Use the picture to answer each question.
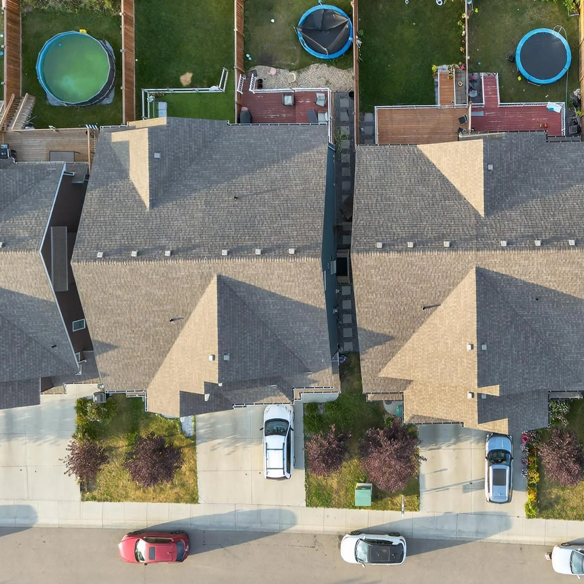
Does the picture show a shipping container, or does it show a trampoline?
trampoline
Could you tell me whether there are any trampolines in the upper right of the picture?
Yes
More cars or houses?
cars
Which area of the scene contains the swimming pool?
top left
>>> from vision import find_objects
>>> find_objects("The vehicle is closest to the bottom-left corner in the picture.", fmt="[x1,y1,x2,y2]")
[121,529,192,566]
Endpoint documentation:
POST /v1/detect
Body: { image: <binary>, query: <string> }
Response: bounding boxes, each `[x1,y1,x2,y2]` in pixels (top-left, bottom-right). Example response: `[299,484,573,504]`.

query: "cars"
[482,432,516,503]
[260,404,296,477]
[121,529,192,566]
[551,542,584,579]
[340,530,407,568]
